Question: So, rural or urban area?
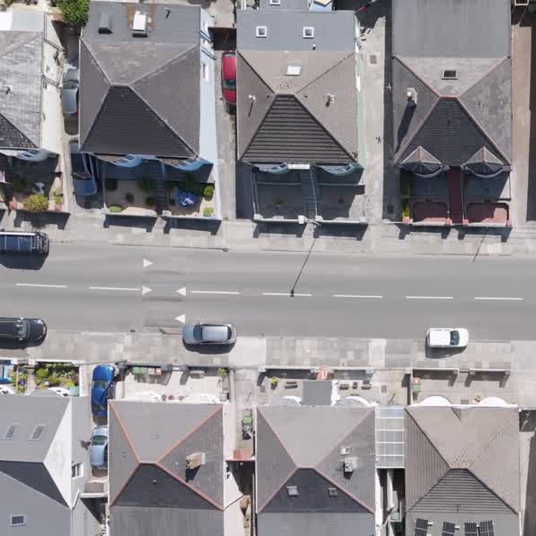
urban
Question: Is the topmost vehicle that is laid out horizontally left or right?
left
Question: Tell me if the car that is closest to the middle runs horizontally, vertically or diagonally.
horizontally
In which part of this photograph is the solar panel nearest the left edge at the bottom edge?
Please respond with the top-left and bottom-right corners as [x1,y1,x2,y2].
[414,520,432,536]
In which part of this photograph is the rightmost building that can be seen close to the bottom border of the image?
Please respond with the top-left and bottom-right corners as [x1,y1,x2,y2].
[404,393,519,536]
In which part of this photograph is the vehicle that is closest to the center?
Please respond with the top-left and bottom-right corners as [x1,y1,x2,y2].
[184,322,236,346]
